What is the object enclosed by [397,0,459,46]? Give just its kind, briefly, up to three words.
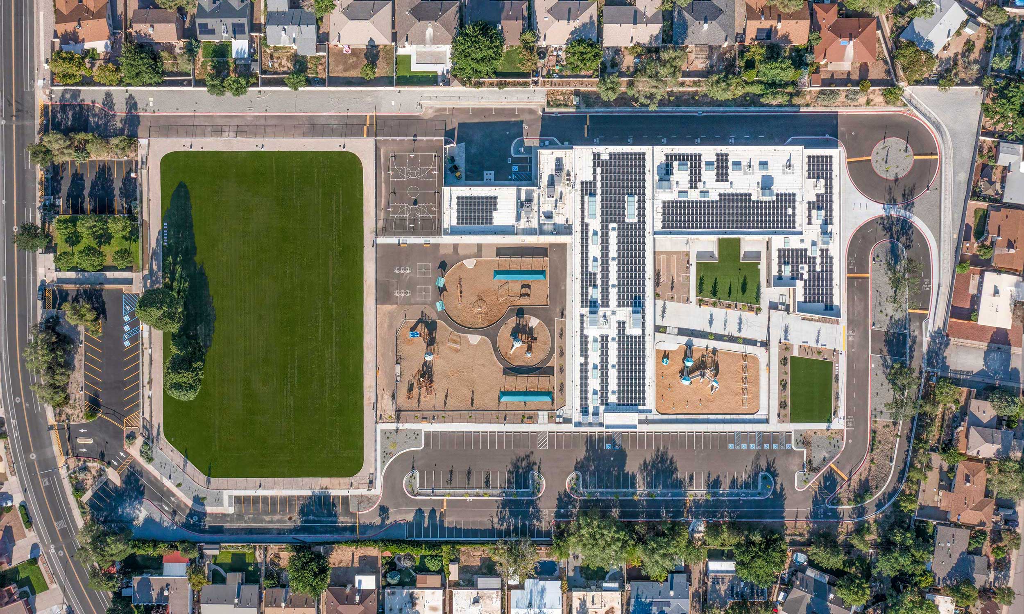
house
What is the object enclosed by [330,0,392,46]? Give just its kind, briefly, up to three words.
house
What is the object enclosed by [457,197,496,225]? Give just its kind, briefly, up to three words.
solar array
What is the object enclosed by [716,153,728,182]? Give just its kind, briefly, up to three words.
solar array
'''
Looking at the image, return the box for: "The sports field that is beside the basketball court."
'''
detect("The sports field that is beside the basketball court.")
[160,151,364,478]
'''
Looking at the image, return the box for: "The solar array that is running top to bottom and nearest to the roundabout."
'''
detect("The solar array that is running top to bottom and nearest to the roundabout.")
[807,155,831,227]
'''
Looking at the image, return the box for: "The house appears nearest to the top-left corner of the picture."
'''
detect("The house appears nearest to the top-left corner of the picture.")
[52,0,115,45]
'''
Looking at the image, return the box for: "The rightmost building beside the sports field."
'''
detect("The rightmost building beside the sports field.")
[442,146,841,435]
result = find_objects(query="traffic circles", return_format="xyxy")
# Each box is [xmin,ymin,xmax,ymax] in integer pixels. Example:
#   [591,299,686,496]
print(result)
[871,137,914,180]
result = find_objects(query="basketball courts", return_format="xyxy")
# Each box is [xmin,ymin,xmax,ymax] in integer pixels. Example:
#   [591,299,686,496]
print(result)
[376,139,443,236]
